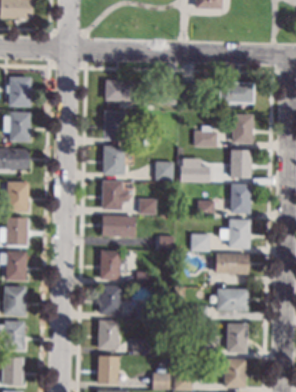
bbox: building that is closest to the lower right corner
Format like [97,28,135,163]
[224,358,250,388]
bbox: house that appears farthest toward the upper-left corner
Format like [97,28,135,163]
[0,0,34,19]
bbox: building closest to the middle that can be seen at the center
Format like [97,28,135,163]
[138,198,158,216]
